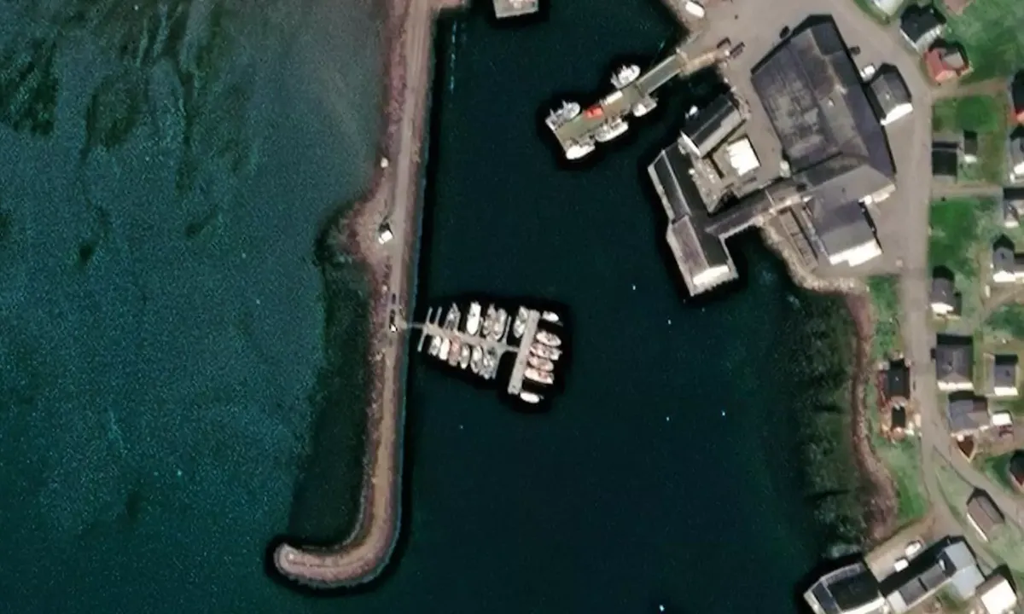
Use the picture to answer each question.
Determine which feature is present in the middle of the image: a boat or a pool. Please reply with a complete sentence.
The one visible in the middle of the image is a boat.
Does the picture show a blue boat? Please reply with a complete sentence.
No, there appears to be no blue boat in this shot.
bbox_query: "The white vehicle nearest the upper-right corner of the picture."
[860,63,876,80]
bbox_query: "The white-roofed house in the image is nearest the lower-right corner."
[976,575,1018,614]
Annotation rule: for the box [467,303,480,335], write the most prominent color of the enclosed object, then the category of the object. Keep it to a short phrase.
white boat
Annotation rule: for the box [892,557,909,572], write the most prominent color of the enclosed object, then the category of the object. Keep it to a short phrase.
white vehicle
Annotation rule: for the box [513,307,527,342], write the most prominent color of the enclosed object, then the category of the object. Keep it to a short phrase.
white boat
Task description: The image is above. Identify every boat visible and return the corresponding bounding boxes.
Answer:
[444,303,458,330]
[525,370,554,385]
[542,311,560,322]
[520,392,539,402]
[632,97,658,114]
[449,336,461,367]
[461,343,470,370]
[685,105,698,116]
[429,335,441,356]
[545,104,581,132]
[492,308,505,340]
[536,332,563,348]
[528,356,556,371]
[609,65,640,88]
[567,140,598,158]
[481,305,494,336]
[471,344,482,373]
[482,350,494,380]
[531,345,563,359]
[513,307,527,342]
[595,118,631,143]
[467,303,480,335]
[440,338,451,361]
